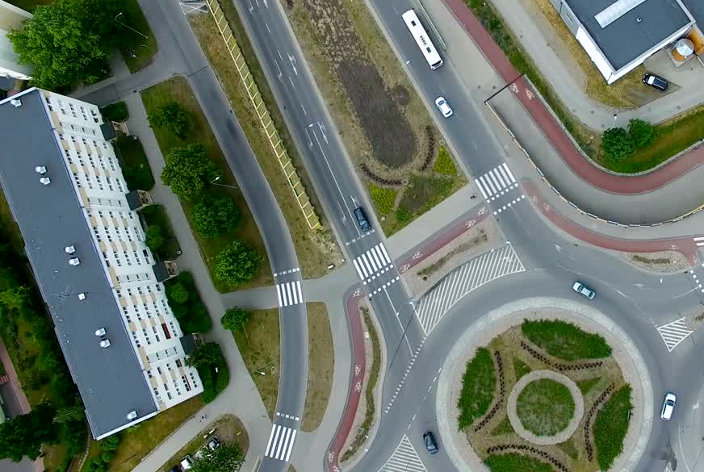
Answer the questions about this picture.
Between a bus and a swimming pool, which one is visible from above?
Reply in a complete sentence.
It is a bus that can be seen here.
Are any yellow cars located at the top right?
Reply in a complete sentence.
No, looking at the top right, there is no yellow car.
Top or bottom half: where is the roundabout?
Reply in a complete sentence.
The bottom half of the photo is where the roundabout is.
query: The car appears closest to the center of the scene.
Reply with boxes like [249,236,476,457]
[353,205,369,232]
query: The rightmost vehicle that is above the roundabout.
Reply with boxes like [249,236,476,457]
[641,75,669,91]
